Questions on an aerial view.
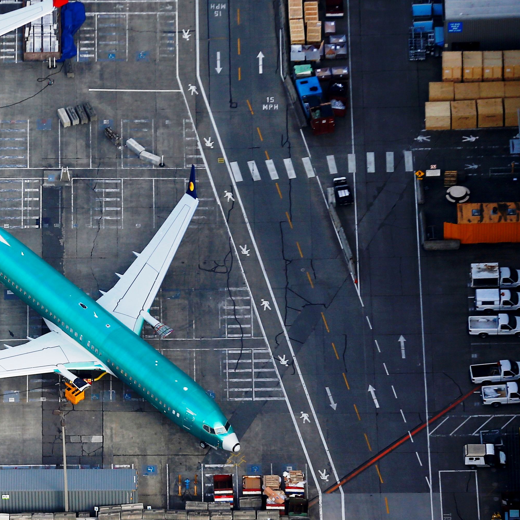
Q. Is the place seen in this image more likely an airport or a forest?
airport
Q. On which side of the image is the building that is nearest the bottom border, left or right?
right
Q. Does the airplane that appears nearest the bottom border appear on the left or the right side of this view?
left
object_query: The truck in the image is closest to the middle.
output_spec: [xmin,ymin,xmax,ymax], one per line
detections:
[330,171,359,209]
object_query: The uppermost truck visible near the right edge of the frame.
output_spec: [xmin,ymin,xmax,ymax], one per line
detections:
[467,259,520,291]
